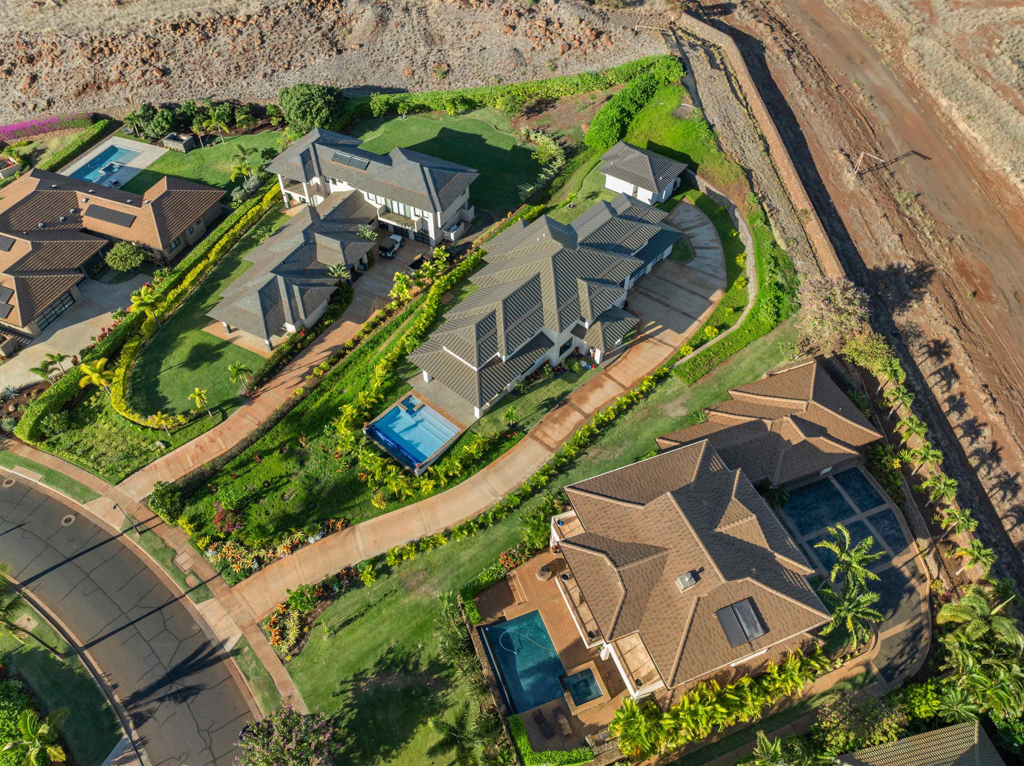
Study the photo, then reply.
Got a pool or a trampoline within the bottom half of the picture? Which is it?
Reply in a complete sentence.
Visible within the bottom half of the picture is a pool.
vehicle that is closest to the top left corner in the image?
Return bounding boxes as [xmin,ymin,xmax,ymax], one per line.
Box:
[377,236,404,257]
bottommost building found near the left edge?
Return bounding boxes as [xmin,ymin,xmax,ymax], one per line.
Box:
[0,168,227,340]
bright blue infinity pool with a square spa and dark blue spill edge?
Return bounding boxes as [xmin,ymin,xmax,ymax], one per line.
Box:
[357,390,468,477]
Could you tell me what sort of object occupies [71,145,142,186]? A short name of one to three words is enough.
swimming pool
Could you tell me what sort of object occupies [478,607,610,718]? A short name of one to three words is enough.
swimming pool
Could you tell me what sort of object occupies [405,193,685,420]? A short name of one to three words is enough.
house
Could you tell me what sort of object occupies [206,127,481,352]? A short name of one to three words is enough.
house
